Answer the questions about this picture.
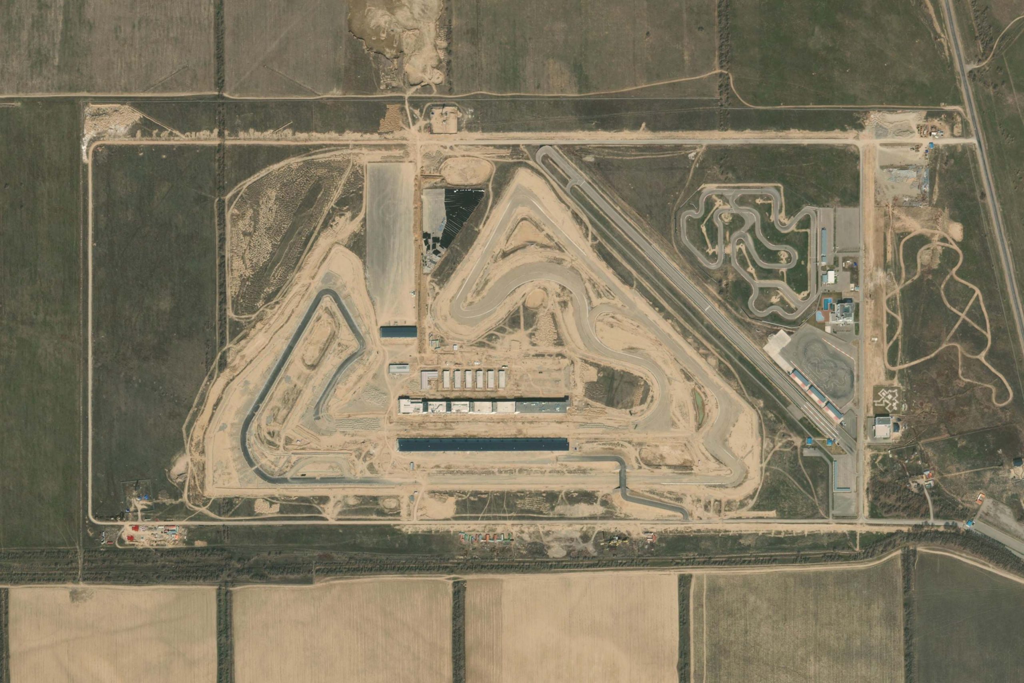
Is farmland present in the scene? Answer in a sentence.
Yes, the picture does contain farmland.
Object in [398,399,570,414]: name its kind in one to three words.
building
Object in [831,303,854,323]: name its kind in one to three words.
building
